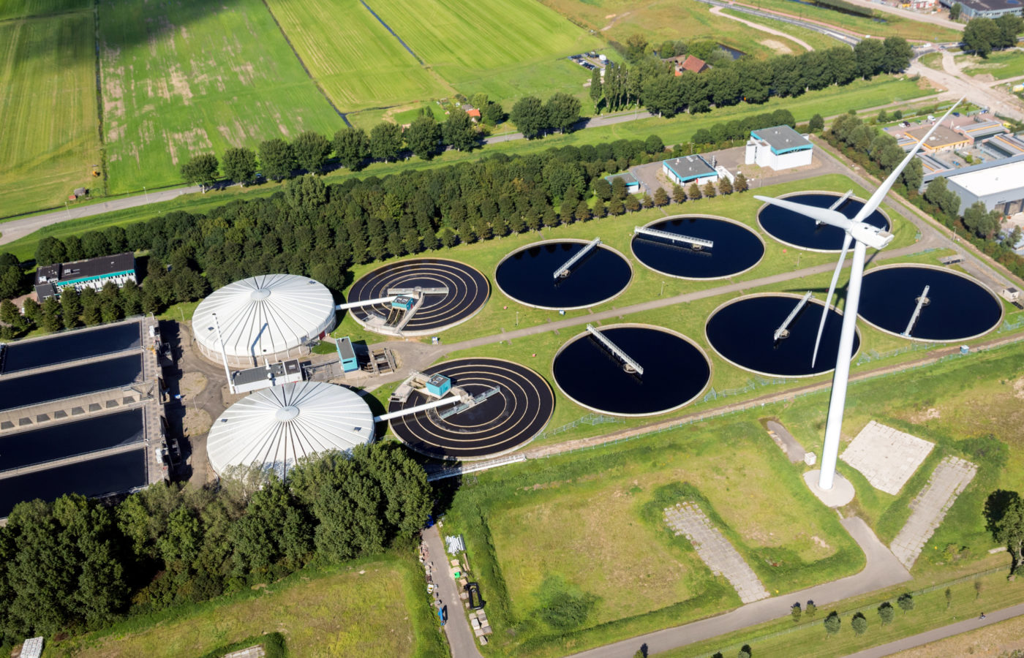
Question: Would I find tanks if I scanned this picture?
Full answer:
Yes, the image includes a tank.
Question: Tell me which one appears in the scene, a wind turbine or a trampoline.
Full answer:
Of the two, only a wind turbine appears.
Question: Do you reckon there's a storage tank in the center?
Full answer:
Yes, you'll find a storage tank in the center.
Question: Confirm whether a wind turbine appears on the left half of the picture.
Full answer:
No, no wind turbine appears on the left half of the picture.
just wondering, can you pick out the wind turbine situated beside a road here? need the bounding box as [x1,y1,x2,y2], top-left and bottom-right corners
[751,98,959,495]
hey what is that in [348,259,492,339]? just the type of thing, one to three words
storage tank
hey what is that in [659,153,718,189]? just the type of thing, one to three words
building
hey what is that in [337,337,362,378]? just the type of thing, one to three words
building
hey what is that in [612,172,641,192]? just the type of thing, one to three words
shed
